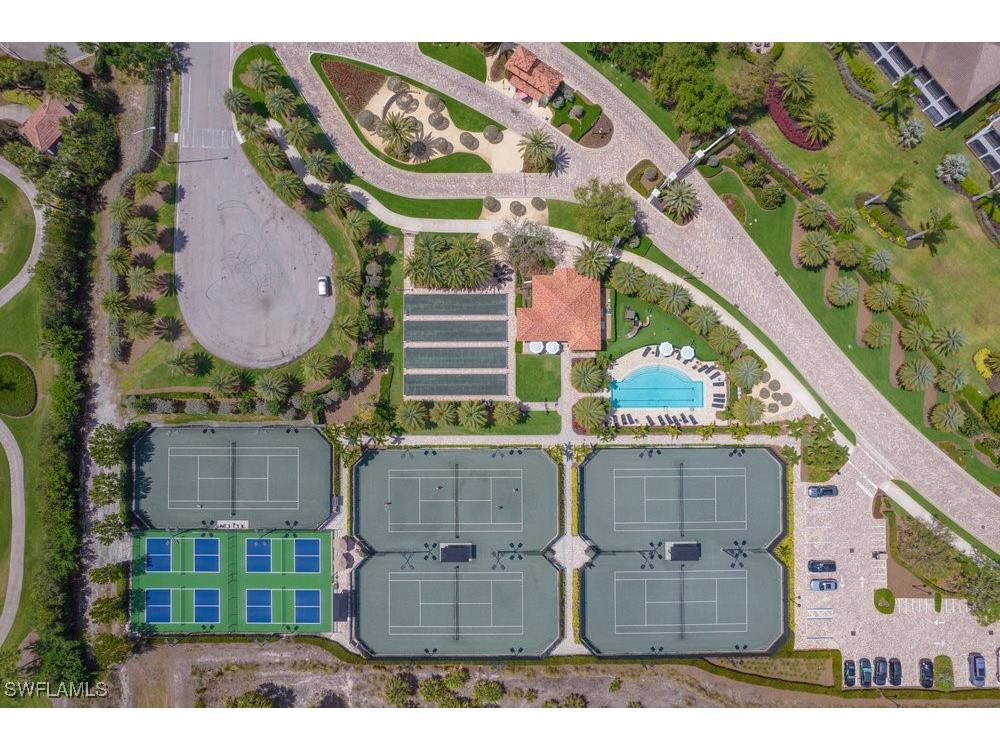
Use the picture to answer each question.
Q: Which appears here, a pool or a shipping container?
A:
pool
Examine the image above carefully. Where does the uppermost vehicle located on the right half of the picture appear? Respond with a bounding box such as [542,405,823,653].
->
[808,484,838,498]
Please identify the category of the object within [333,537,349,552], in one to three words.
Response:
umbrella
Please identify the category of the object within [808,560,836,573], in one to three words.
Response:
vehicle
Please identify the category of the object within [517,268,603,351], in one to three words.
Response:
building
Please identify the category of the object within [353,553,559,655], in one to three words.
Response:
tennis court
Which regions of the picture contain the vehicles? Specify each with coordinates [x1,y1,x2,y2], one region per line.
[857,658,872,686]
[968,654,986,685]
[808,560,836,573]
[918,659,935,686]
[842,659,856,686]
[810,579,837,592]
[872,657,888,684]
[808,484,838,498]
[316,276,328,297]
[888,658,903,685]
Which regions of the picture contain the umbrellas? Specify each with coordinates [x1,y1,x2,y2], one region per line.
[333,556,349,571]
[529,342,543,354]
[659,342,674,356]
[681,346,694,360]
[546,342,560,354]
[333,537,349,552]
